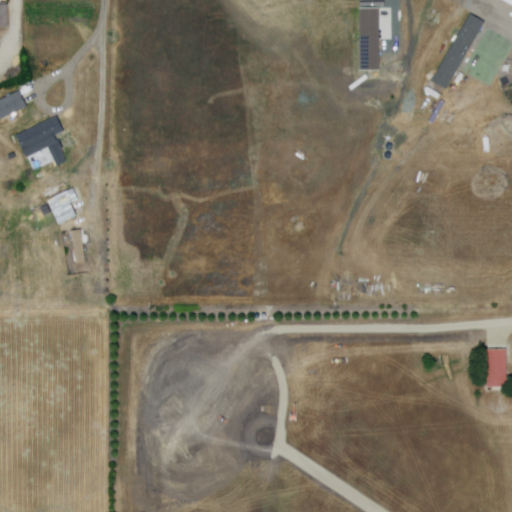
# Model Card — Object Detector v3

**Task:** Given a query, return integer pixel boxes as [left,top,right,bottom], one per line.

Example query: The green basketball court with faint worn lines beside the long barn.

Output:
[467,30,511,84]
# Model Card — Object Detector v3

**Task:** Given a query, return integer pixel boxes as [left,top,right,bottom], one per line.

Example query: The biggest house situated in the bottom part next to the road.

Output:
[488,350,508,387]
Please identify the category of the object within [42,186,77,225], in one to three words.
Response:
house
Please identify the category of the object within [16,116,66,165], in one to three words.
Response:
house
